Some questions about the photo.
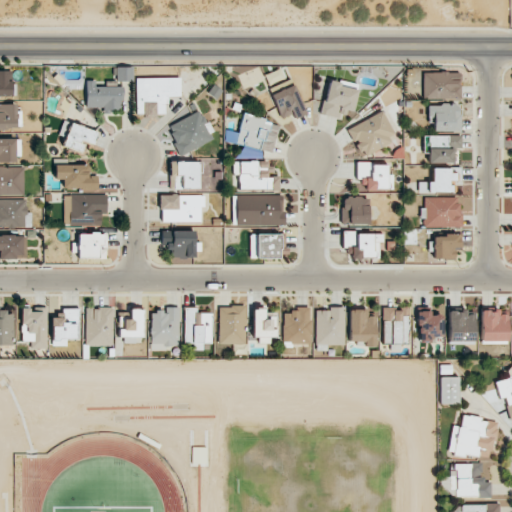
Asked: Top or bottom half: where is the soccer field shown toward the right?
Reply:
bottom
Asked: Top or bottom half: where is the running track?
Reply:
bottom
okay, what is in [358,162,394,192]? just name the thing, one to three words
house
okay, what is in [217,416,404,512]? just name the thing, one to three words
soccer field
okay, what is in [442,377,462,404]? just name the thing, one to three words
shed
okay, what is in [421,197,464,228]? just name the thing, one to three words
house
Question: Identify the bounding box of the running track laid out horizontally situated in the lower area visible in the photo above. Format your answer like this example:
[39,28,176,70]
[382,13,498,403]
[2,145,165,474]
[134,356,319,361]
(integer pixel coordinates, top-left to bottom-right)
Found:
[22,437,184,512]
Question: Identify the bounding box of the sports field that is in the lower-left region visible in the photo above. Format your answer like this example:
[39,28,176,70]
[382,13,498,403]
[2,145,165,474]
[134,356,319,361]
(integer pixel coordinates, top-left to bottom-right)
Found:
[43,456,164,512]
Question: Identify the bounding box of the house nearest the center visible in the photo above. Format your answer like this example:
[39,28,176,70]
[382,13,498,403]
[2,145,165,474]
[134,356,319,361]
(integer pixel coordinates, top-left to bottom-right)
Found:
[250,233,284,260]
